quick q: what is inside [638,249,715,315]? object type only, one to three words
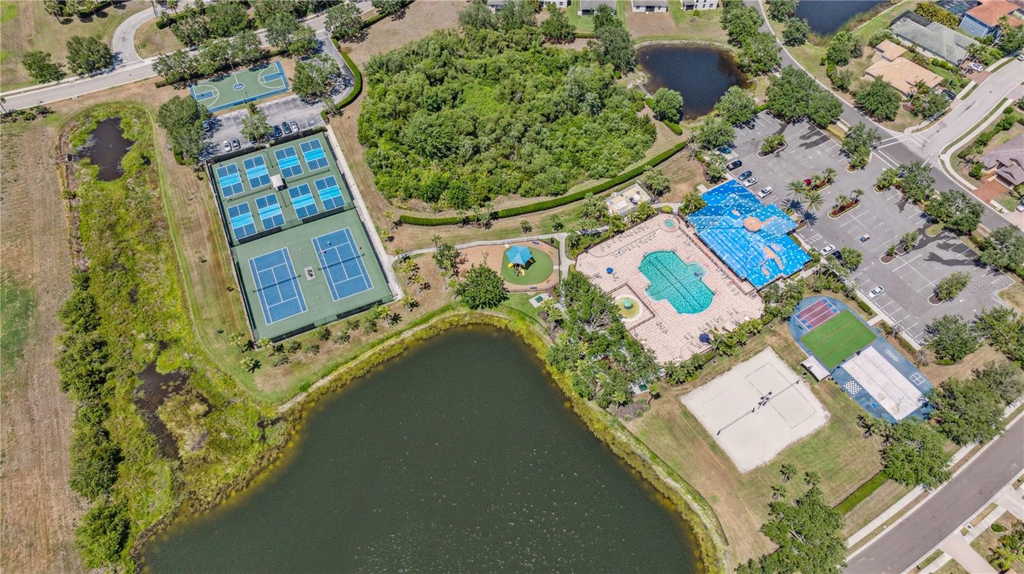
swimming pool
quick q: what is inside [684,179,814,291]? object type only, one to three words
building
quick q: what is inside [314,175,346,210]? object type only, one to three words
sports court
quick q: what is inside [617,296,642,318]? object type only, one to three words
fountain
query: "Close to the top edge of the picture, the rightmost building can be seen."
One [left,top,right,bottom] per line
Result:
[955,0,1022,39]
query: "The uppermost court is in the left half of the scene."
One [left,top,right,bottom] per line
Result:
[192,60,291,113]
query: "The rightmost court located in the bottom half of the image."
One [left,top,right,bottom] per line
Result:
[787,295,933,424]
